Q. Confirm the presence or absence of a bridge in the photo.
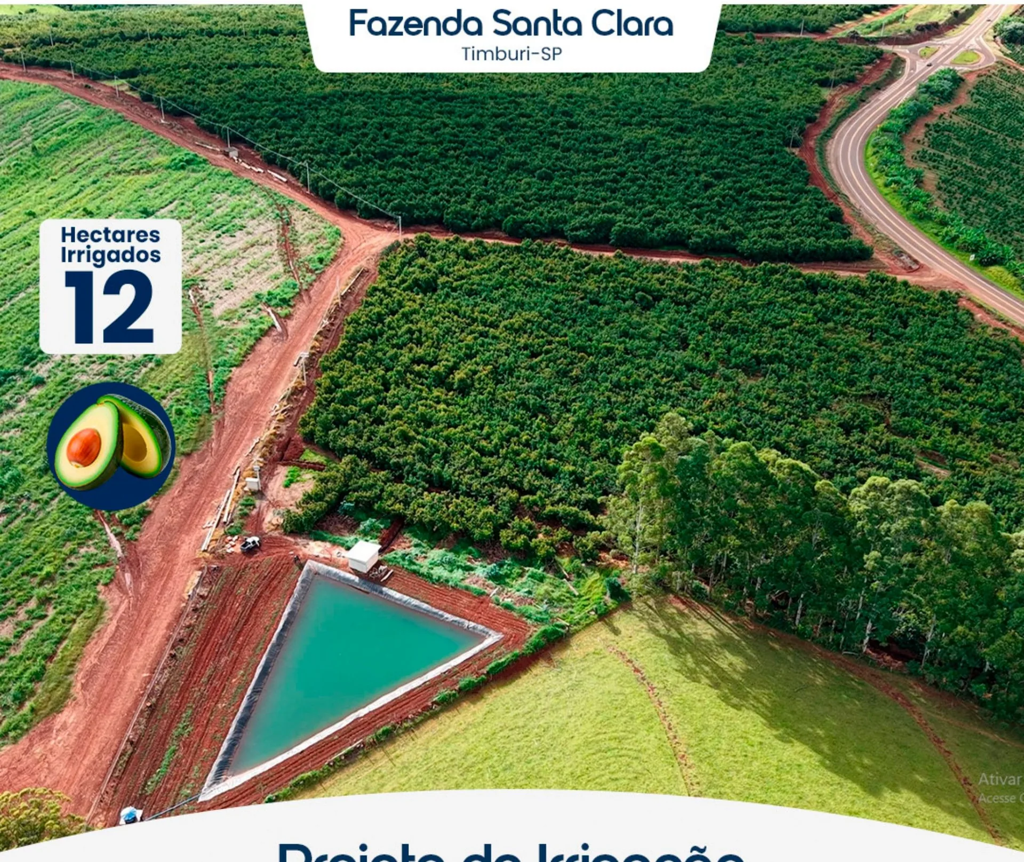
No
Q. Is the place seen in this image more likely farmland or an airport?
farmland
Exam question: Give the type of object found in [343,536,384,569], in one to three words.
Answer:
building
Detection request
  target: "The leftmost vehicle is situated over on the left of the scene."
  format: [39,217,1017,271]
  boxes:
[243,536,267,551]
